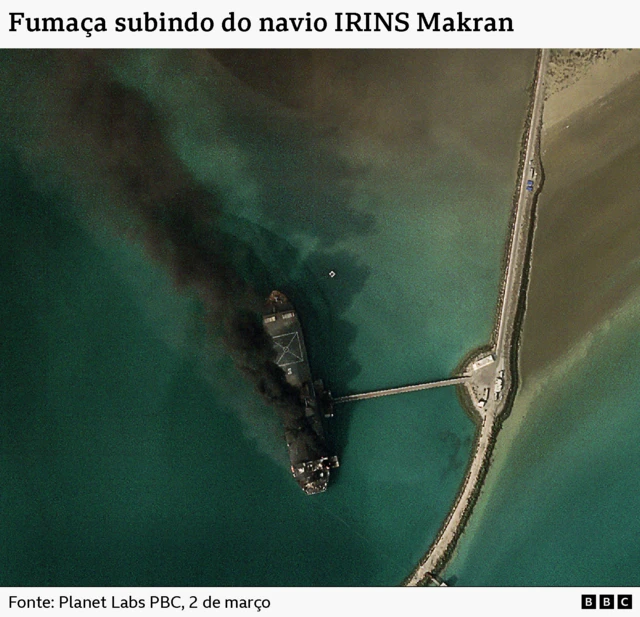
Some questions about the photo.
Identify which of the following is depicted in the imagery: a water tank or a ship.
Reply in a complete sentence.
It is a ship that can be seen here.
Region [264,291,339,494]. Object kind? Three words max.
ship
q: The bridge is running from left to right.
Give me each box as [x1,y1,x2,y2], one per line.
[332,375,471,403]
